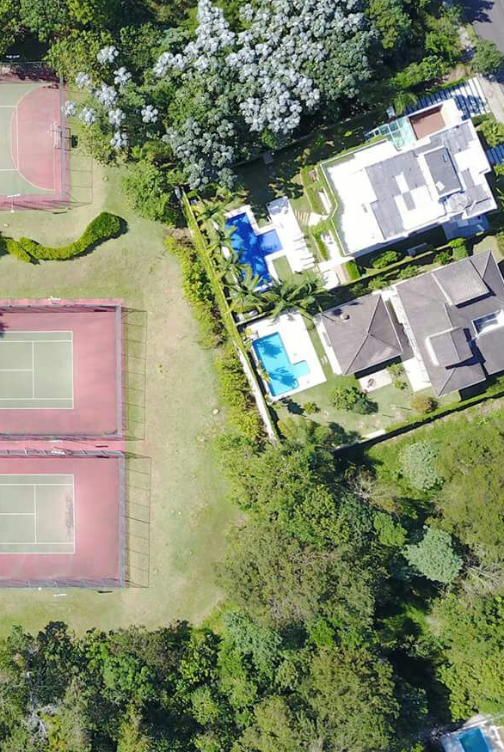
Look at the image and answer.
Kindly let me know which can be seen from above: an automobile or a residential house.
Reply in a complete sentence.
Of the two, only a residential house appears.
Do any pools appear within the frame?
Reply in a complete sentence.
Yes, you can see a pool in this photo.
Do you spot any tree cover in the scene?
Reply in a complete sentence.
Yes, some tree cover is visible.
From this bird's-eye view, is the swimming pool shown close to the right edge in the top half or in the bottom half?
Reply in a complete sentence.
Seen from above, the swimming pool shown close to the right edge lies in the bottom half of the view.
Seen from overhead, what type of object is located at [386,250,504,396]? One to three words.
house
